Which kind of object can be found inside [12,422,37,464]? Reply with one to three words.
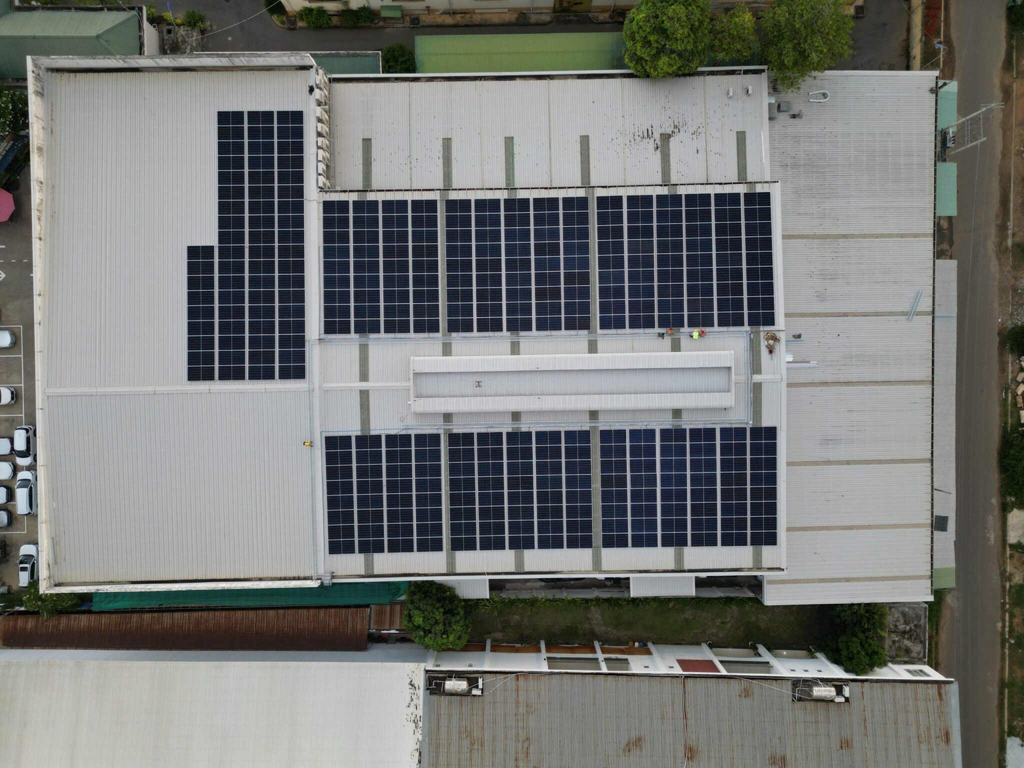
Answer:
car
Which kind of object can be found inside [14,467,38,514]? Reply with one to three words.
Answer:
car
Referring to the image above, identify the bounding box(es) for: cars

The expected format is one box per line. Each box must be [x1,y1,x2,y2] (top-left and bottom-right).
[0,330,18,349]
[0,461,17,480]
[15,542,40,589]
[14,467,38,514]
[0,485,12,504]
[0,384,19,407]
[0,508,13,528]
[12,422,37,464]
[0,436,15,456]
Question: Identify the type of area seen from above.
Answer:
industrial area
